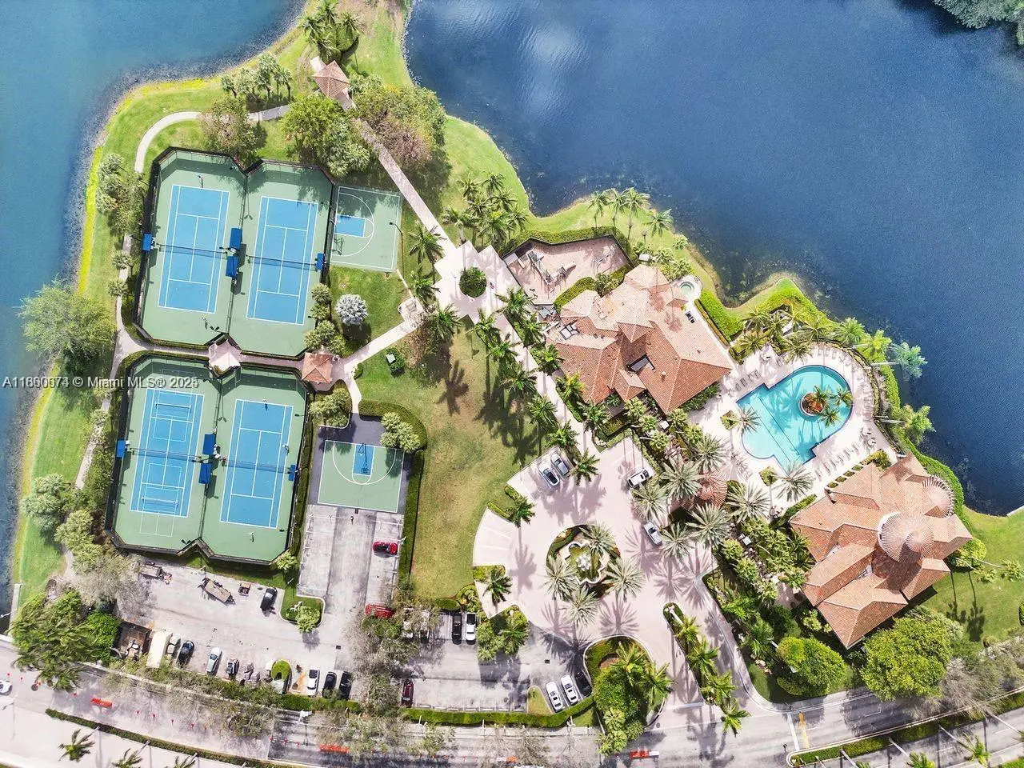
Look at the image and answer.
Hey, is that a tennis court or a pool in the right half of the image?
pool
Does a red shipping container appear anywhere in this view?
No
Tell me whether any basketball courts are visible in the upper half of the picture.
Yes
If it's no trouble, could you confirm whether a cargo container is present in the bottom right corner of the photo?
No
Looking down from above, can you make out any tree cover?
Yes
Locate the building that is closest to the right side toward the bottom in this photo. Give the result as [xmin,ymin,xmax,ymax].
[790,450,972,649]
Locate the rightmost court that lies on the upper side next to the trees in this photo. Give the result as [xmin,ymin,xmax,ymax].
[328,184,404,273]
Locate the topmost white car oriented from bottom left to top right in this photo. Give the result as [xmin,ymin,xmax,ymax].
[627,469,651,489]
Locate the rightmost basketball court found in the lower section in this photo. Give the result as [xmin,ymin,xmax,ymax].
[317,439,405,514]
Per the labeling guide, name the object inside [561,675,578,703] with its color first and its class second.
white car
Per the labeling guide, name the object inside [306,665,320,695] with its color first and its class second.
white vehicle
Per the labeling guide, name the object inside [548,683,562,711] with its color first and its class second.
white car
